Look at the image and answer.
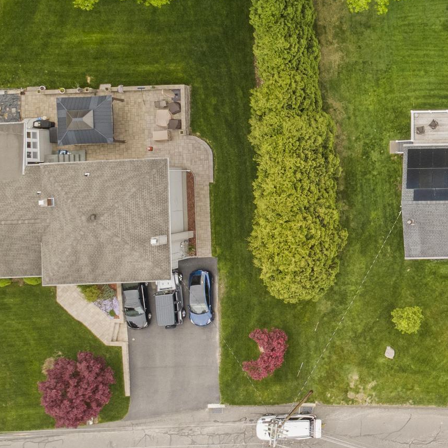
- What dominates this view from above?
grass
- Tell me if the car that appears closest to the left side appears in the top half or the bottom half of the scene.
bottom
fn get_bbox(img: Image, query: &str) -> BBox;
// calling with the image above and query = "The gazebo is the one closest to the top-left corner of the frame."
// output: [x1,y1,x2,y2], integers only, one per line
[57,95,126,146]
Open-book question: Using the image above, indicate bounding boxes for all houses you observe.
[399,143,448,261]
[0,121,195,286]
